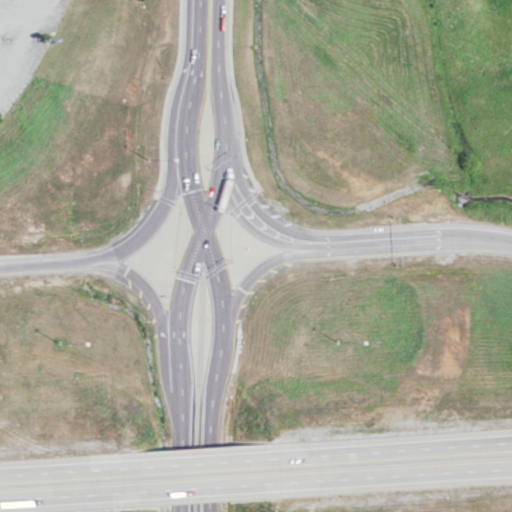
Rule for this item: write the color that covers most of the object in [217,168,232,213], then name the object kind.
white vehicle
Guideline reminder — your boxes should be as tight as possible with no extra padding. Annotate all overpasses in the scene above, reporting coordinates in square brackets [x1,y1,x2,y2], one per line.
[146,444,256,508]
